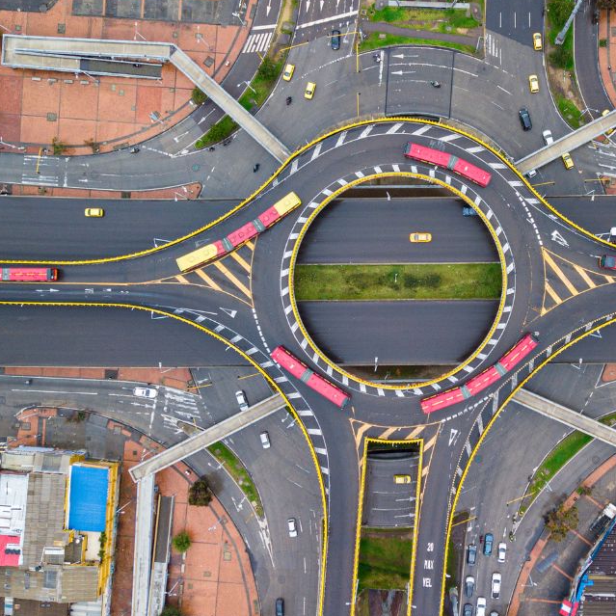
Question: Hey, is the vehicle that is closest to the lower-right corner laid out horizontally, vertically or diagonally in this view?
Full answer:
The vehicle that is closest to the lower-right corner is oriented diagonally.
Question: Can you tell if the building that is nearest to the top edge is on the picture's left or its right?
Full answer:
The building that is nearest to the top edge is on the left side of the image.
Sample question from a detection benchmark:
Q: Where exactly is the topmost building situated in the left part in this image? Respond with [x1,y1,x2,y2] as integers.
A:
[1,449,81,474]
